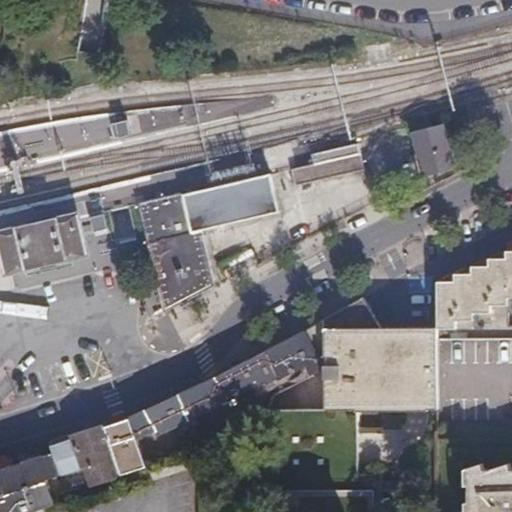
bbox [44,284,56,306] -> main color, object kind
white vehicle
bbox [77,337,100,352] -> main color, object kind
gray car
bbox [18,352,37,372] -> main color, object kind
white car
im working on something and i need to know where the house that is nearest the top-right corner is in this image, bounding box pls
[410,124,456,179]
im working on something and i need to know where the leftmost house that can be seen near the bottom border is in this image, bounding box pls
[0,452,60,496]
